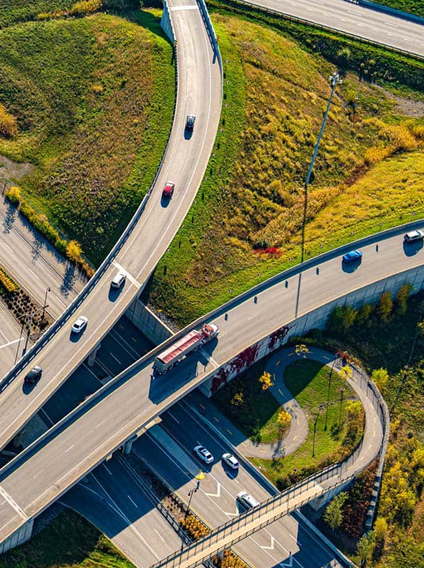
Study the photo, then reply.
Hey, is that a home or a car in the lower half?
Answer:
car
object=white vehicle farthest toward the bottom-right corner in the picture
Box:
[236,491,260,513]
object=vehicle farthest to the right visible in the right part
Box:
[402,231,423,243]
